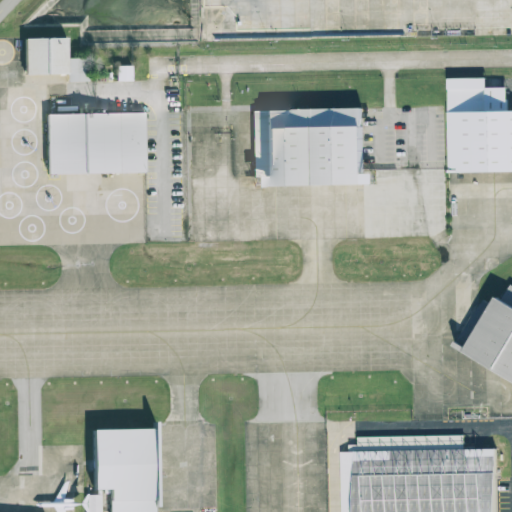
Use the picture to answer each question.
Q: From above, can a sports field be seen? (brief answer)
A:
No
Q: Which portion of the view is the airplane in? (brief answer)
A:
bottom left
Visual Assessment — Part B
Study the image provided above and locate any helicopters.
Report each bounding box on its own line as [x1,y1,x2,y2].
[18,134,35,150]
[43,190,56,207]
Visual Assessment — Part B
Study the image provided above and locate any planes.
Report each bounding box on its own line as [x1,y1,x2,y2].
[38,482,88,512]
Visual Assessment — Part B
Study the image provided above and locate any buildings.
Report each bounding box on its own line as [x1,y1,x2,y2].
[94,423,161,512]
[71,58,85,82]
[254,108,370,186]
[26,37,70,74]
[342,450,501,512]
[453,287,512,381]
[358,436,464,450]
[118,66,134,81]
[447,78,512,173]
[48,113,147,175]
